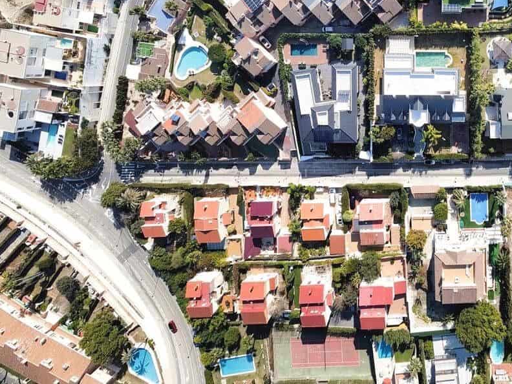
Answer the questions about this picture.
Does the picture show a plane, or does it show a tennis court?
tennis court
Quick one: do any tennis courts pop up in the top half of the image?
No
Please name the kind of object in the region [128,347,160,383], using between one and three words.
swimming pool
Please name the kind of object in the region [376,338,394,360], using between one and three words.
swimming pool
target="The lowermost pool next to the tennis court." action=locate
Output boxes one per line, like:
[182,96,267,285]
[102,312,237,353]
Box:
[218,354,257,378]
